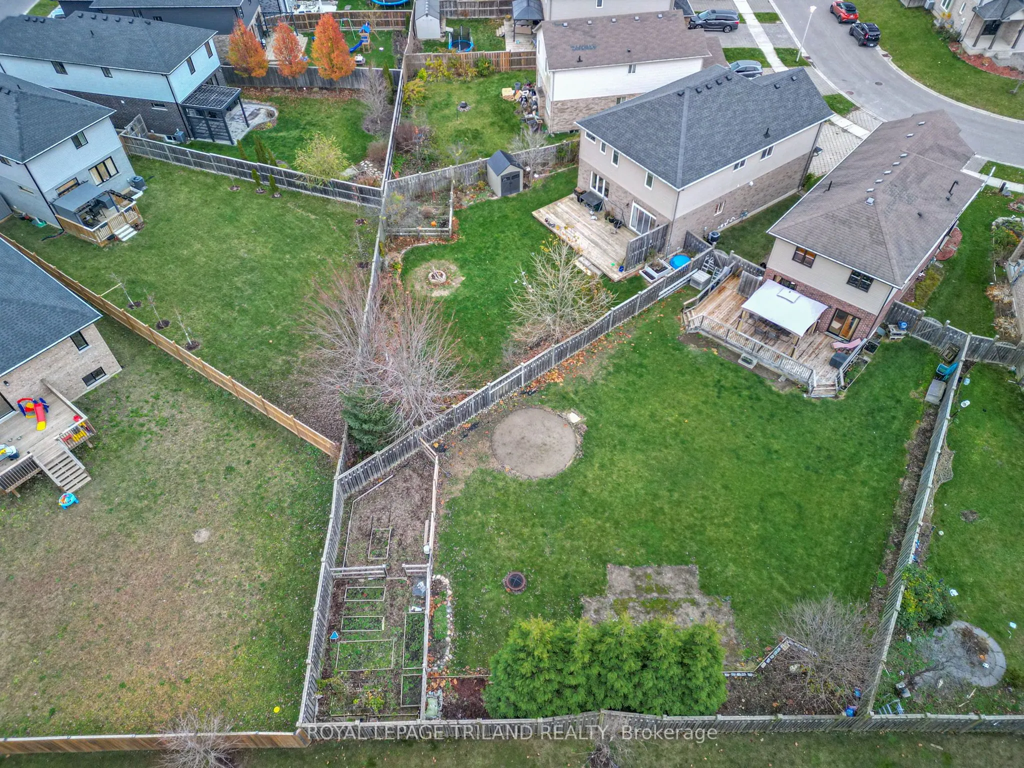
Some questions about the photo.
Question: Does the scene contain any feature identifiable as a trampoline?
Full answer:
Yes, a trampoline appears in the view.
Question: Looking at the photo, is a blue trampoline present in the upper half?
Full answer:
Yes, a blue trampoline shows up in the upper half.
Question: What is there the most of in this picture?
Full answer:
The largest share of the image is taken up by grass.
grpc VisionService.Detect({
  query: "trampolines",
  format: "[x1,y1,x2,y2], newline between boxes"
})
[370,0,410,10]
[448,28,472,56]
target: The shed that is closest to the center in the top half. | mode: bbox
[480,149,522,196]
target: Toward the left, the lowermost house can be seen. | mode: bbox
[0,236,121,417]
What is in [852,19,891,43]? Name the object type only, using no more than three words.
car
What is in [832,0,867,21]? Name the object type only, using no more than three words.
car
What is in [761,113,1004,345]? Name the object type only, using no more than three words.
house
